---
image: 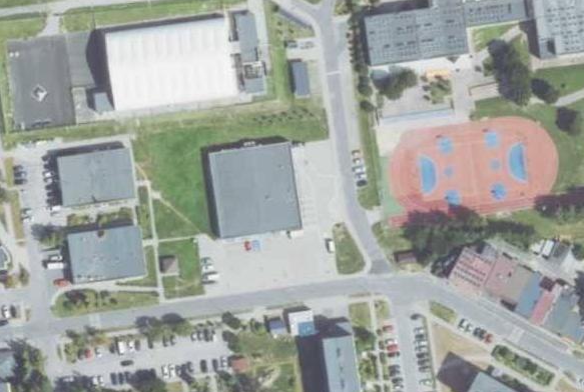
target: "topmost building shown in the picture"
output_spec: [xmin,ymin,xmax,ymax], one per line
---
[467,0,527,28]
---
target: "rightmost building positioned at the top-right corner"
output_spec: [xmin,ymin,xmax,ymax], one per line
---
[533,0,584,61]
